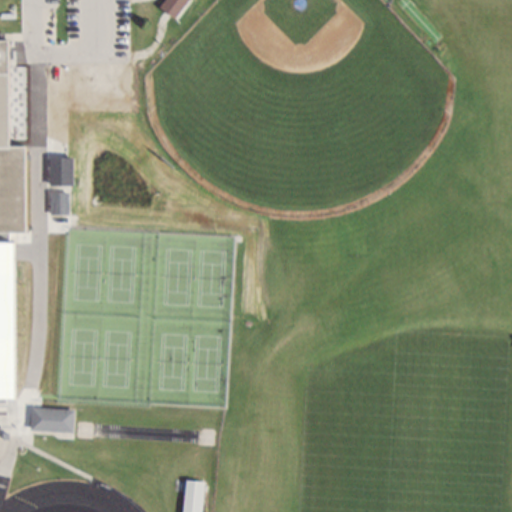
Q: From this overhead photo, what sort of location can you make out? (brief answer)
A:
sports ground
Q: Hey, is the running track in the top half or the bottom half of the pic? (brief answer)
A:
bottom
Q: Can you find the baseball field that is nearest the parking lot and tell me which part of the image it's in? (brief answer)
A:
top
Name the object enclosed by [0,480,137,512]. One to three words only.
running track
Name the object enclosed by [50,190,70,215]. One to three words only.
building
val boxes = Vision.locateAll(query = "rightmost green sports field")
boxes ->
[391,325,512,512]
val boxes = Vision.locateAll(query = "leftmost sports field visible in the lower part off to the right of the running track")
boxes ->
[298,330,394,512]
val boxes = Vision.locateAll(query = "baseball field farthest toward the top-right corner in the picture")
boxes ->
[144,0,456,222]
